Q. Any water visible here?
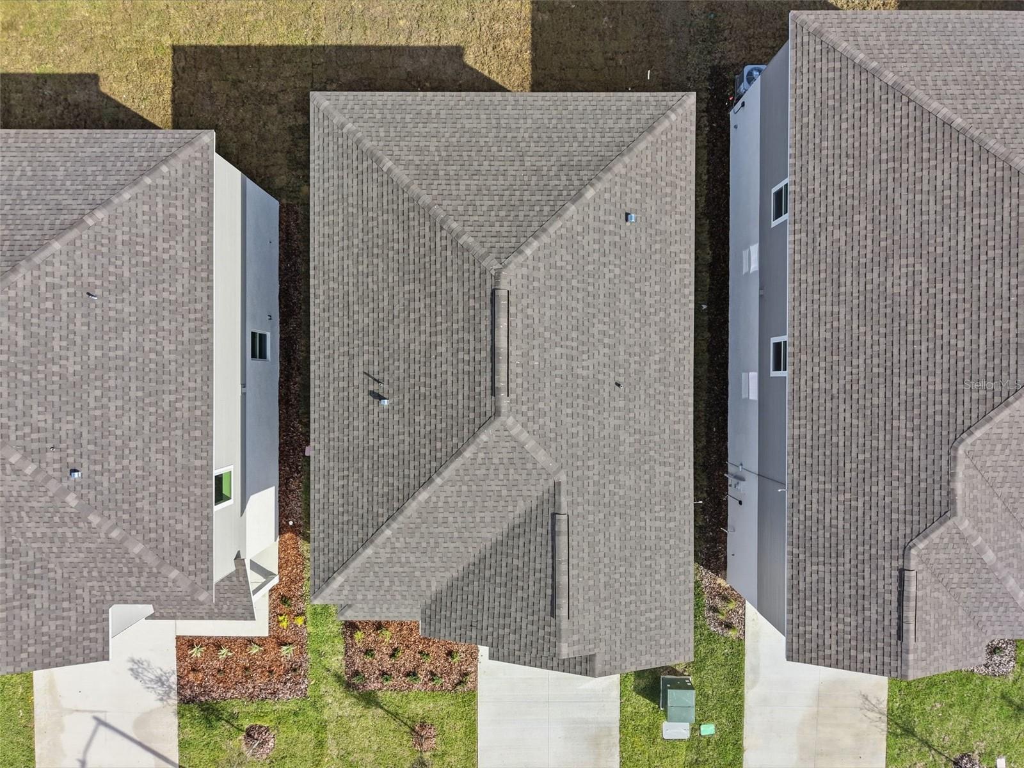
No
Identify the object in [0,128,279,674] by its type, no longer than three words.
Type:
house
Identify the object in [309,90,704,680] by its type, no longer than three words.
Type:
house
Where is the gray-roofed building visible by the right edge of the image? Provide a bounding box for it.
[724,8,1024,678]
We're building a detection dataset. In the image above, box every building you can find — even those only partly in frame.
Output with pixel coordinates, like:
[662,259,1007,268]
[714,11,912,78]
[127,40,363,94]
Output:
[309,90,704,680]
[0,128,279,674]
[724,8,1024,678]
